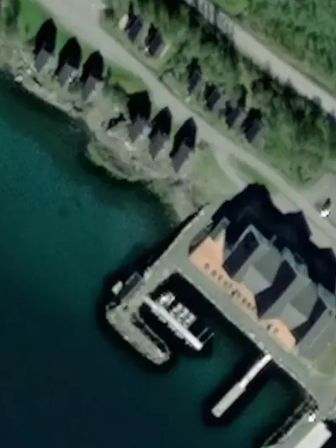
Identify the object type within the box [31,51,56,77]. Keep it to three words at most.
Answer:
building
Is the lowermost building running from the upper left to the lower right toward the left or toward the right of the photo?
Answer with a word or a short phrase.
right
